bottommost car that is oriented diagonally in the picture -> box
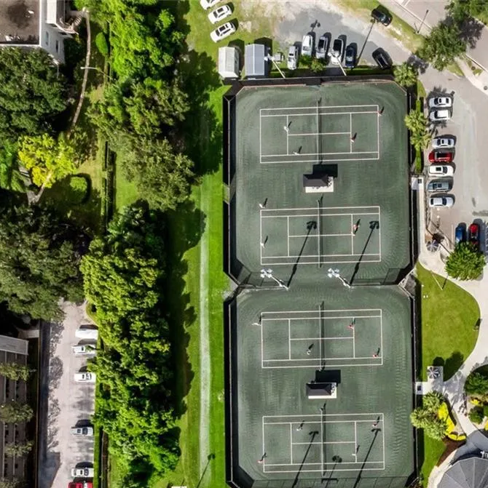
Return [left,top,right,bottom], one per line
[372,46,392,71]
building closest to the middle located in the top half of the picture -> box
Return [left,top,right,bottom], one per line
[304,172,334,190]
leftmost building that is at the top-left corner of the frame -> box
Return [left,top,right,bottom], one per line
[0,0,75,63]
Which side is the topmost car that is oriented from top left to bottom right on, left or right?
right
